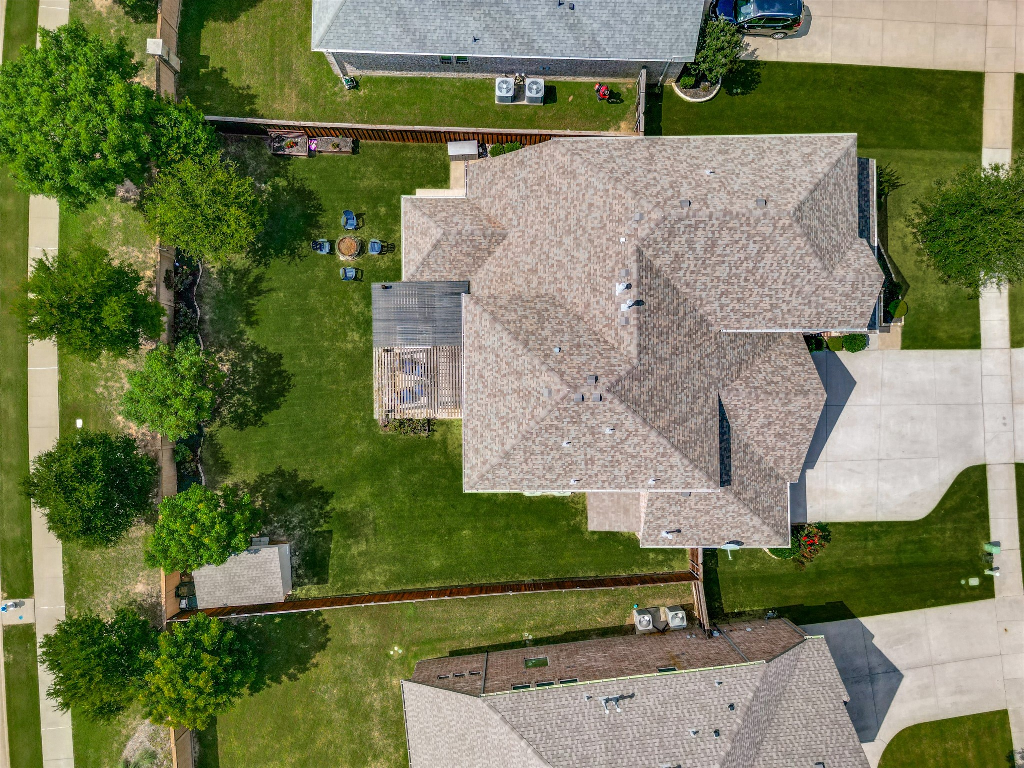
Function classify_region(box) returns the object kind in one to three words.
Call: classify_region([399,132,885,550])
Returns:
house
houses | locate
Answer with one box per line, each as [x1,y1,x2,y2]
[404,614,873,768]
[399,132,885,550]
[310,0,705,94]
